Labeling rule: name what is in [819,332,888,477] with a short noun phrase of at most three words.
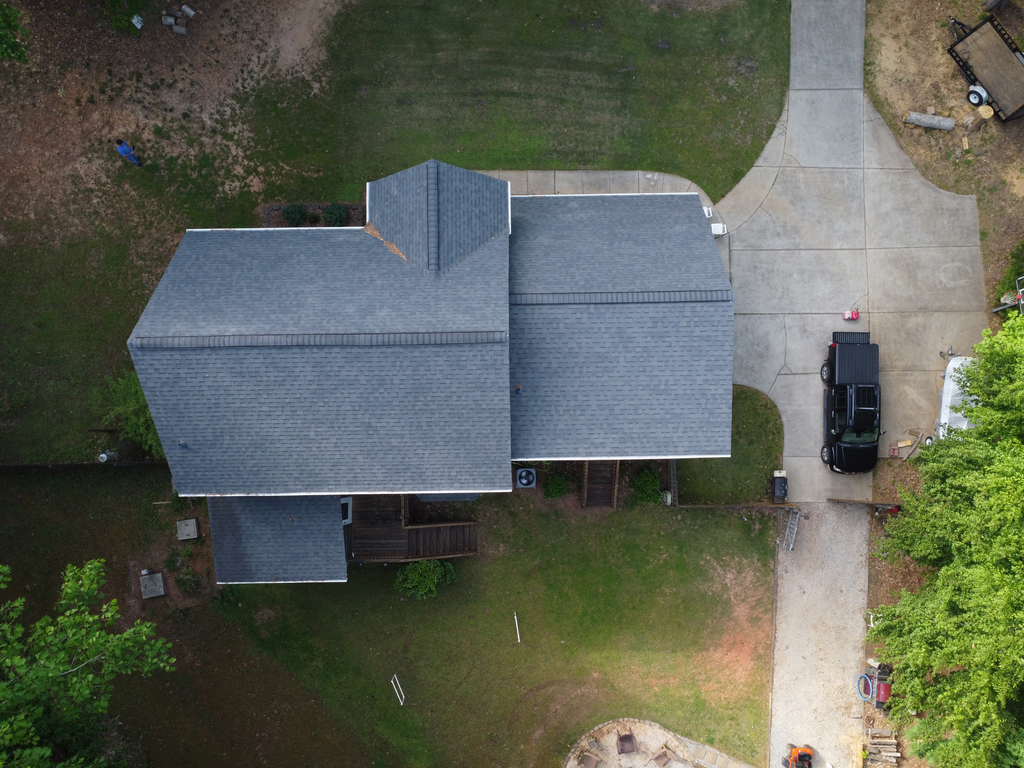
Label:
truck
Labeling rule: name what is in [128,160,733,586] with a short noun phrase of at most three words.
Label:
house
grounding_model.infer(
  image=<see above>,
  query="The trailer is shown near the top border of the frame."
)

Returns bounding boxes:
[942,18,1024,136]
